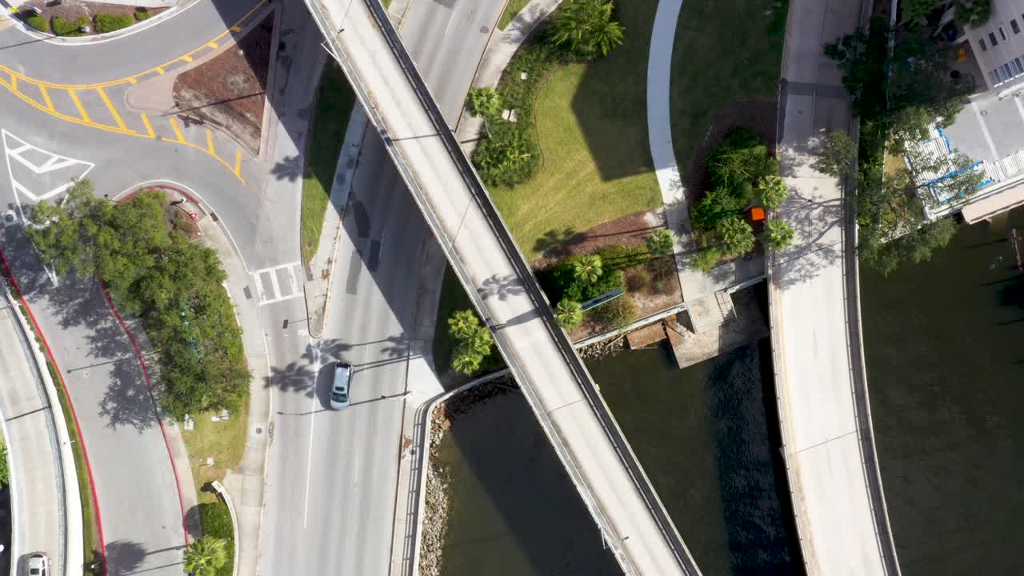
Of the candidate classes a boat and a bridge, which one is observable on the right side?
bridge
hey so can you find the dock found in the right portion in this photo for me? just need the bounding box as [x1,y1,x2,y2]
[962,182,1024,225]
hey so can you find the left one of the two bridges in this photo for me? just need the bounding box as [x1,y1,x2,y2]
[304,0,702,576]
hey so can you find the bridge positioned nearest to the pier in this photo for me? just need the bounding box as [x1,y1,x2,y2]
[768,0,903,576]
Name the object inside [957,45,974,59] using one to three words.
umbrella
